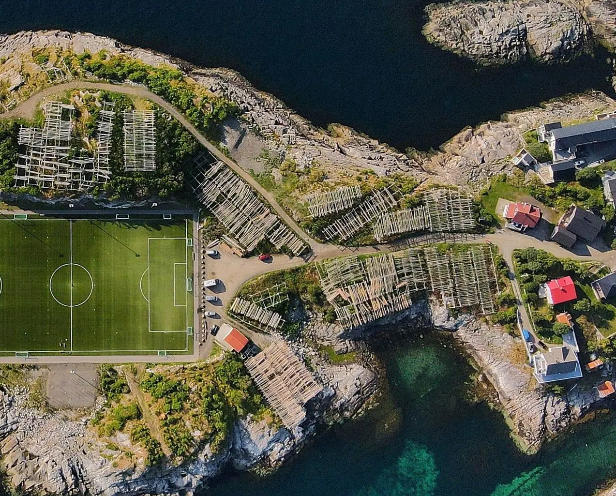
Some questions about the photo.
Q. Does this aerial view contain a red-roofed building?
Yes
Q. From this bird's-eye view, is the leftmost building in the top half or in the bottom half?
bottom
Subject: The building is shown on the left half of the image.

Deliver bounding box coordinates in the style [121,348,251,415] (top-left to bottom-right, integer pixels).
[213,323,252,353]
